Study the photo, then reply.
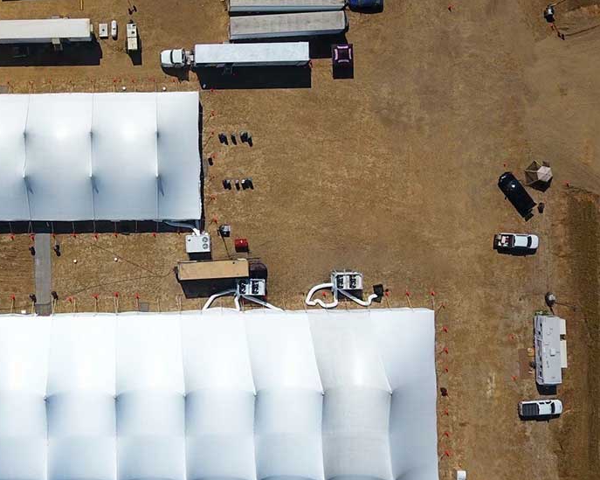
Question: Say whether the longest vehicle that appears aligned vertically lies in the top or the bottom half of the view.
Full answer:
The bottom half of the photo is where the longest vehicle that appears aligned vertically is.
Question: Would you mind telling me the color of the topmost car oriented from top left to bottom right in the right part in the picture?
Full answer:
The color of the topmost car oriented from top left to bottom right in the right part is black.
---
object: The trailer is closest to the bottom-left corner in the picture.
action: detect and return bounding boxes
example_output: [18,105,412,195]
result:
[178,258,249,280]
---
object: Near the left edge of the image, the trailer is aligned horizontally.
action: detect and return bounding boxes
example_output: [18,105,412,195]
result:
[0,18,94,55]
